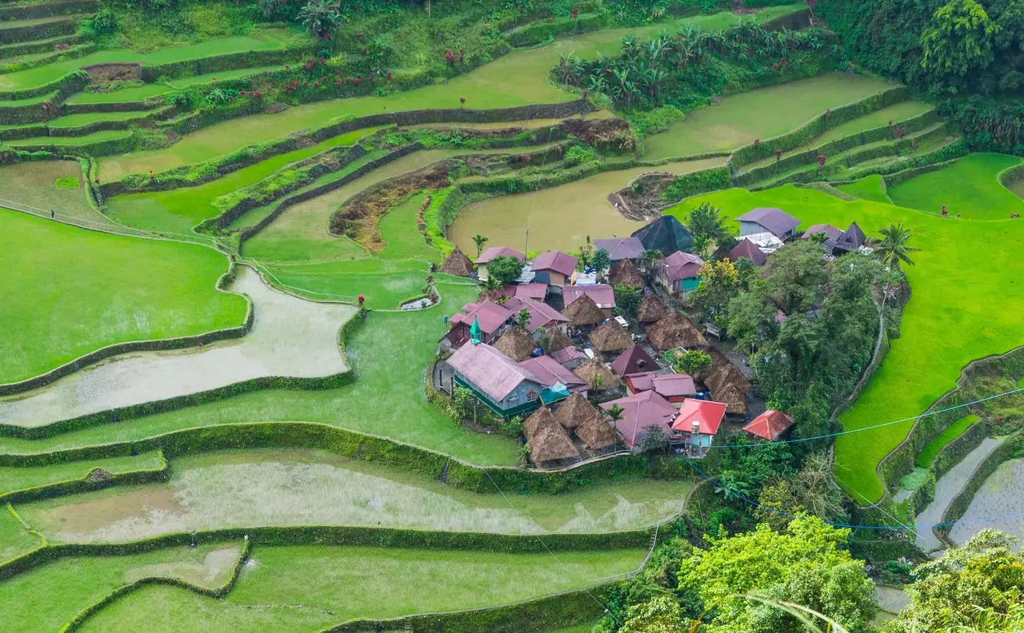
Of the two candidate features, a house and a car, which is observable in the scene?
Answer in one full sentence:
Visible in the photo is a house.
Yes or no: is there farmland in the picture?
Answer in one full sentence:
Yes, there's farmland in this view.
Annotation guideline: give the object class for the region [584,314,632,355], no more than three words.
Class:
shed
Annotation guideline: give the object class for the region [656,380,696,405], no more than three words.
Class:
house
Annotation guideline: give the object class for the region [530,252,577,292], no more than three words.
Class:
house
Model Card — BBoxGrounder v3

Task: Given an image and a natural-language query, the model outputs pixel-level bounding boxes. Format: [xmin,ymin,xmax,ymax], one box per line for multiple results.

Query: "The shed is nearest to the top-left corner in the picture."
[435,244,477,280]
